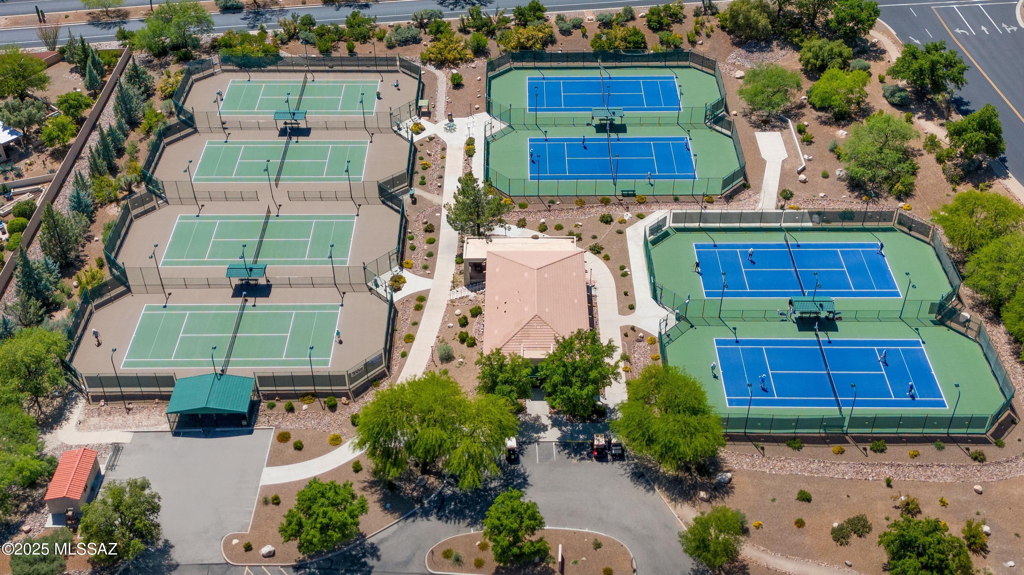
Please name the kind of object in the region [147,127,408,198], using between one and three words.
tennis court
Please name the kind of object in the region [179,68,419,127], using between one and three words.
tennis court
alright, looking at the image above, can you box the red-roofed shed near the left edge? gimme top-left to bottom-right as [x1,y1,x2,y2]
[45,447,103,513]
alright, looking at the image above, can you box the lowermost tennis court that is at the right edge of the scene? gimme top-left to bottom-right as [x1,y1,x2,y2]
[661,317,1007,434]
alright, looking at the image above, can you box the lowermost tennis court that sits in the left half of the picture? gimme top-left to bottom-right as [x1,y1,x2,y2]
[68,284,387,391]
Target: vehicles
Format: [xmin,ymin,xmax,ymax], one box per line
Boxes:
[610,431,624,456]
[593,433,606,457]
[506,434,518,459]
